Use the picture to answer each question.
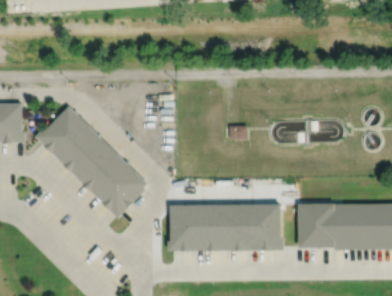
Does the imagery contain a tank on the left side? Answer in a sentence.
No, on the left side there is no tank.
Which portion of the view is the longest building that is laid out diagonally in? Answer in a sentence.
You can find the longest building that is laid out diagonally in the left area of the picture.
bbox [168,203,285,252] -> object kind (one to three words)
building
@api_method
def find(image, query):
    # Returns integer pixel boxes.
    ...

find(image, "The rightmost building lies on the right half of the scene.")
[298,202,392,250]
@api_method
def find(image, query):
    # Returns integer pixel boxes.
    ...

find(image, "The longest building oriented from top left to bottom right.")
[36,106,144,216]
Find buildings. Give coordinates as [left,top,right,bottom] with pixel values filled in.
[168,203,285,252]
[36,106,144,216]
[0,103,24,142]
[230,125,248,139]
[298,202,392,250]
